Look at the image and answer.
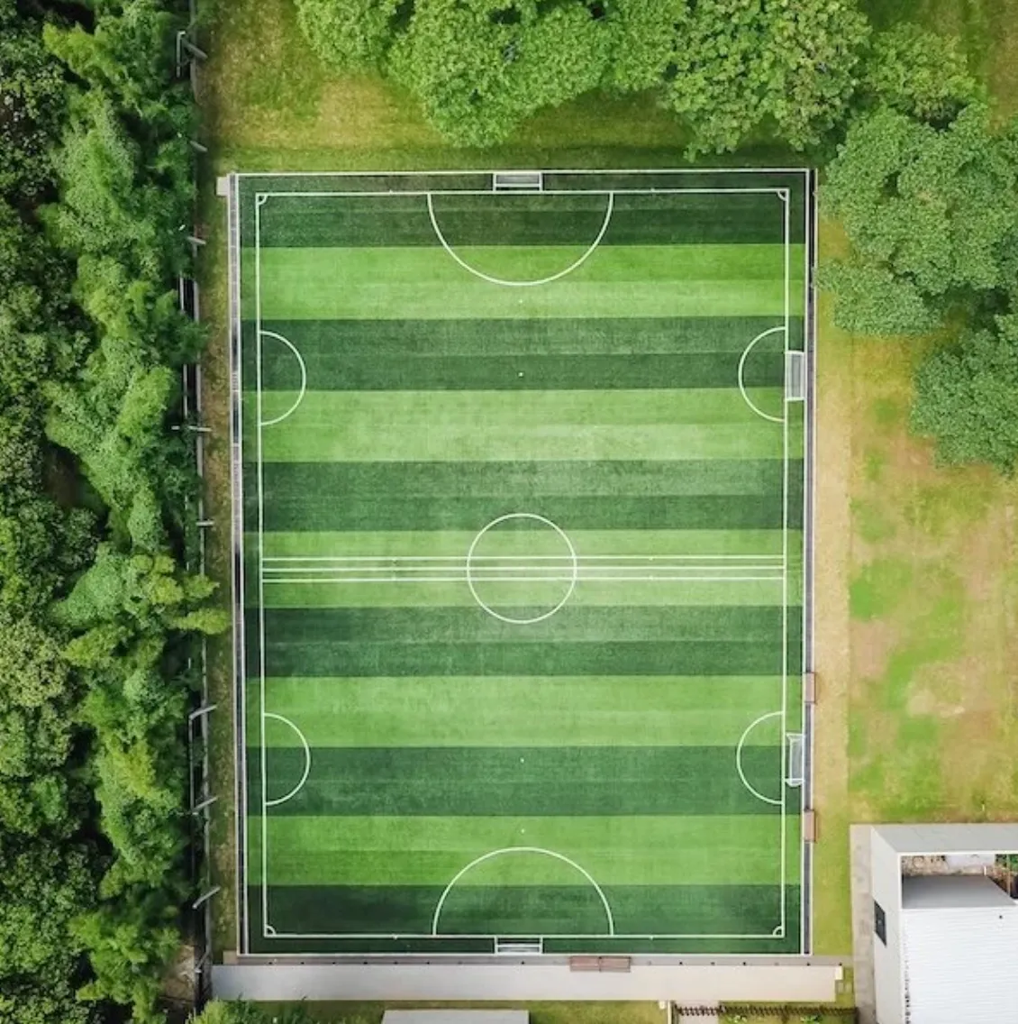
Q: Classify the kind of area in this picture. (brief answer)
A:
sports ground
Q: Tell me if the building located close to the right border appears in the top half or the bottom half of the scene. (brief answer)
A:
bottom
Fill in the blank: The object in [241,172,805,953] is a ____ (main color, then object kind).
green soccer field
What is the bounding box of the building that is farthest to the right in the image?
[872,821,1018,1024]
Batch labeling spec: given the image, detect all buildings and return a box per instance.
[872,821,1018,1024]
[385,1009,529,1024]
